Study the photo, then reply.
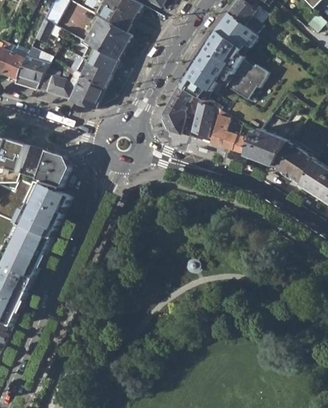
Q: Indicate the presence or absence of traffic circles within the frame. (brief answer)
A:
Yes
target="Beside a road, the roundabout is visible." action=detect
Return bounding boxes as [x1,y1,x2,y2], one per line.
[95,116,157,171]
